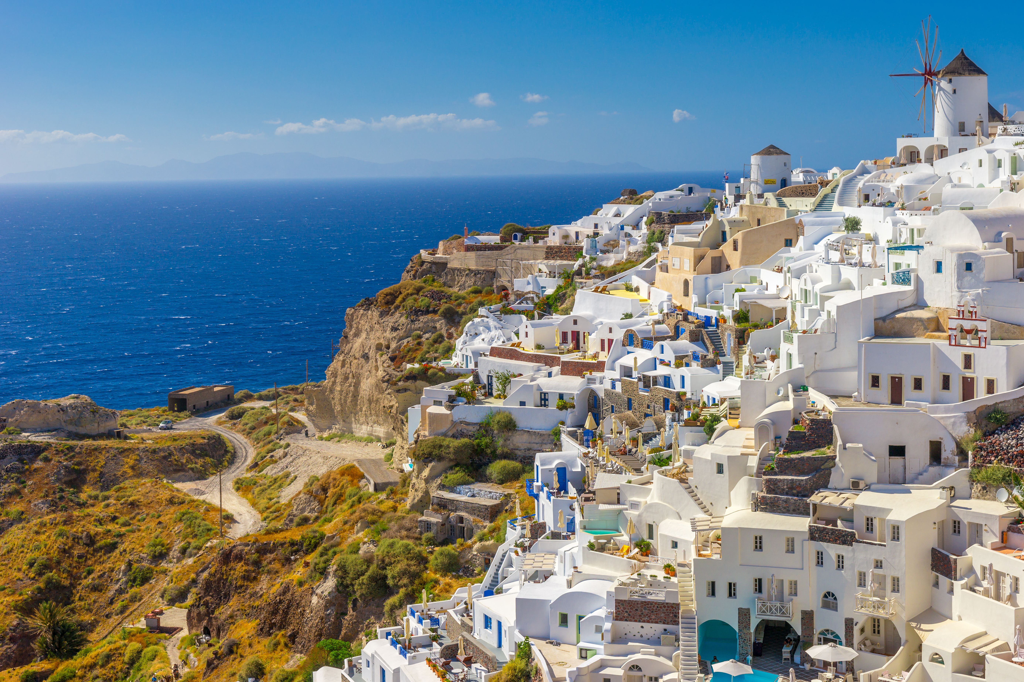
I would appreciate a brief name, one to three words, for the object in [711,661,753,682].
umbrella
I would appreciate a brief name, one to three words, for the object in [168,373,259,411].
building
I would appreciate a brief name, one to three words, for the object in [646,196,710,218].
house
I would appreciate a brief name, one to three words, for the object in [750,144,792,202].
windmill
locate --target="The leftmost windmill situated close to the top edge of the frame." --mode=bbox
[887,17,992,159]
